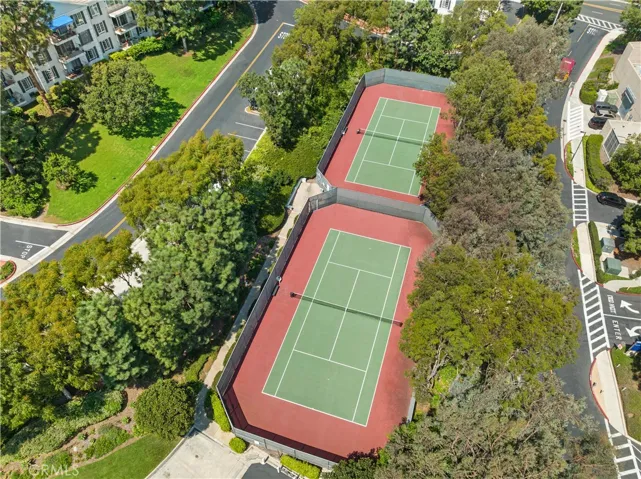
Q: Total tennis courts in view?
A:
2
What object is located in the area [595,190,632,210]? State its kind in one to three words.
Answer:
car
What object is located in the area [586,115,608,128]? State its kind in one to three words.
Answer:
vehicle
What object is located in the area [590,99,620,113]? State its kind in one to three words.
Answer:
car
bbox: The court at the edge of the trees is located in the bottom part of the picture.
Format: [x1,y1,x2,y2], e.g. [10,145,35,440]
[223,202,437,471]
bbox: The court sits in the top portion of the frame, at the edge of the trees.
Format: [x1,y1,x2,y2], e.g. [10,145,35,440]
[327,83,452,208]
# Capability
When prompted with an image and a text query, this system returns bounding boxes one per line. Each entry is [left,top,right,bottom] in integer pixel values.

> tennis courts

[327,83,452,208]
[223,202,437,471]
